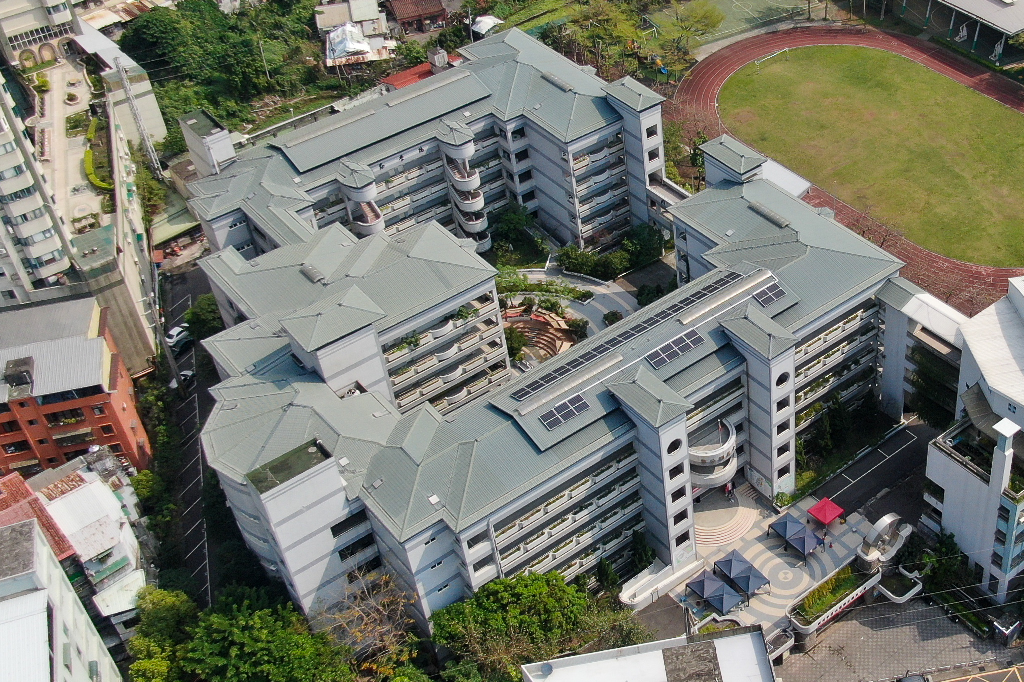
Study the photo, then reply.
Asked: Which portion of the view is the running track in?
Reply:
top right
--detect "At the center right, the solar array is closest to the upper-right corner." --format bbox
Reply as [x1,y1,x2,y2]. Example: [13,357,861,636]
[754,282,787,307]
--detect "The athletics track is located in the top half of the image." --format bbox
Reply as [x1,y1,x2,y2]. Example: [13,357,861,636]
[676,32,1024,289]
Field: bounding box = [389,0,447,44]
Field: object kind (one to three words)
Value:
house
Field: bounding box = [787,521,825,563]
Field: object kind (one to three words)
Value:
tent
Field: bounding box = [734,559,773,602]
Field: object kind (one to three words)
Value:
tent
